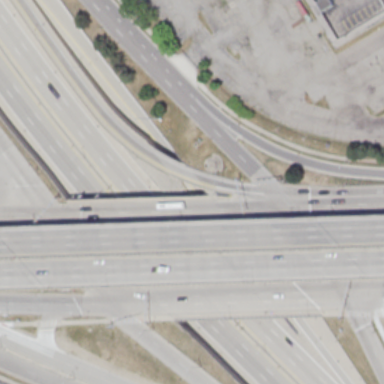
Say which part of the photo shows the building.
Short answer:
top right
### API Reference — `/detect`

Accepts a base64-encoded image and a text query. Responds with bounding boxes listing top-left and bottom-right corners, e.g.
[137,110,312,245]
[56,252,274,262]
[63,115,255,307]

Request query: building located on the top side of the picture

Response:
[316,0,384,38]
